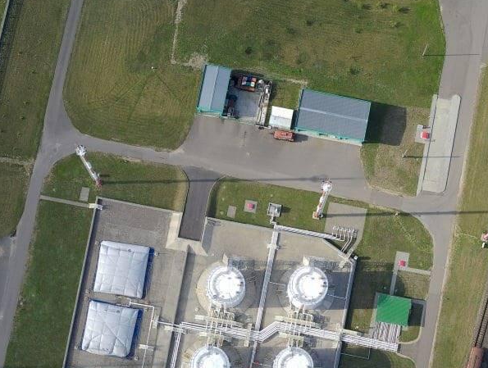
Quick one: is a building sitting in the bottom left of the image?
No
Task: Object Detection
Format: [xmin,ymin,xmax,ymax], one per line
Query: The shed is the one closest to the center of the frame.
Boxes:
[270,107,293,130]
